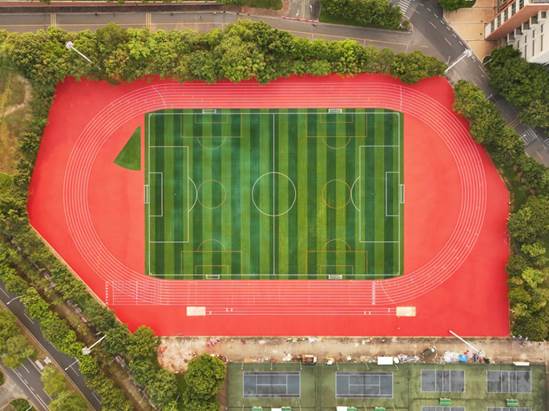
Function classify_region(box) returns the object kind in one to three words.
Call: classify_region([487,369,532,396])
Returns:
sports court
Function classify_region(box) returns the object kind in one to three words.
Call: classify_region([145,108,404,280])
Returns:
soccer field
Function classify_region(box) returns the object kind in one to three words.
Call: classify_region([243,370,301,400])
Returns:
tennis court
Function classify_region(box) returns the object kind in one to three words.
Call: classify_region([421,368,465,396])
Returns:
sports court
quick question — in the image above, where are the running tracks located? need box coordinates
[28,64,510,337]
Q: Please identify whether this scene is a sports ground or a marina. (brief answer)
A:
sports ground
